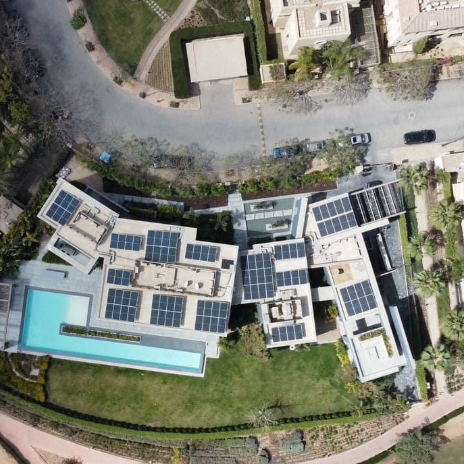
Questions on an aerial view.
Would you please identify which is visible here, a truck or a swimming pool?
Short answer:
swimming pool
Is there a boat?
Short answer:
No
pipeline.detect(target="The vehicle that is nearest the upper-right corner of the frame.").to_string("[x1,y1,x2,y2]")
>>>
[401,129,436,145]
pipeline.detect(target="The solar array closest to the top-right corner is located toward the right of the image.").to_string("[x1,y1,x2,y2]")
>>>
[312,199,356,236]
